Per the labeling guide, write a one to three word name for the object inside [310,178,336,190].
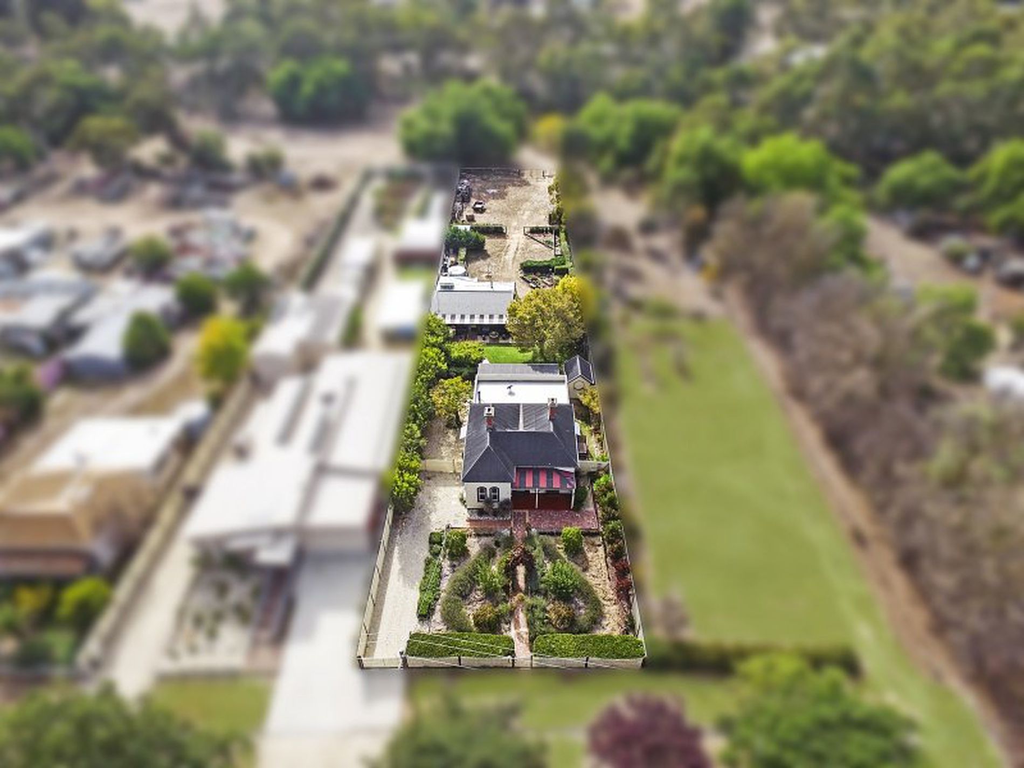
vehicle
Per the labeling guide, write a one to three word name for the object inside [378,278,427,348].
shed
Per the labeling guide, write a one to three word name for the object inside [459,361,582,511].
house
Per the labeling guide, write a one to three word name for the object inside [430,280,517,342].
building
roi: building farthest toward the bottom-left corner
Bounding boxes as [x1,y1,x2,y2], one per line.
[0,409,190,592]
